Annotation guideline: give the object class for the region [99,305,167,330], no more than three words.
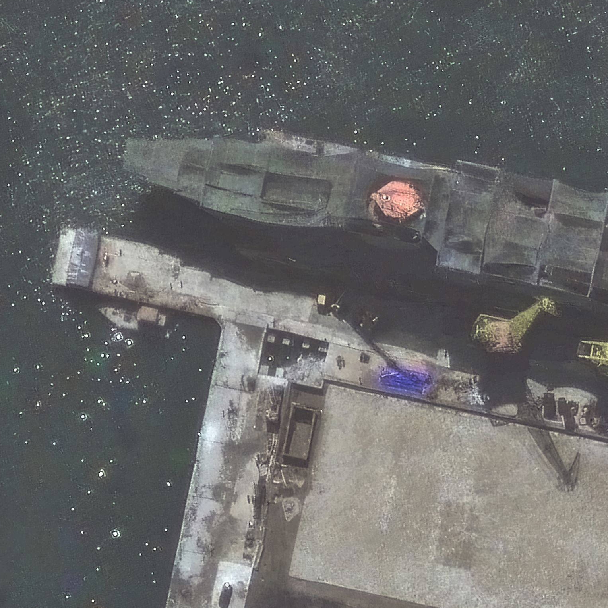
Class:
boat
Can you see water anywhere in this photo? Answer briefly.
Yes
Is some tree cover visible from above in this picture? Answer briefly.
No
